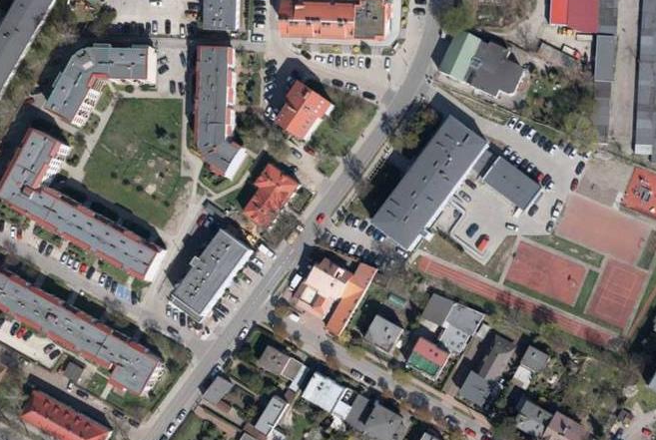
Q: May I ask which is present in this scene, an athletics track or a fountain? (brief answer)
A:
athletics track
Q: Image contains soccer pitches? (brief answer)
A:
Yes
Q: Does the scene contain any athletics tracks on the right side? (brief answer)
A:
Yes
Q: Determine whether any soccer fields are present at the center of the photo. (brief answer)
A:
No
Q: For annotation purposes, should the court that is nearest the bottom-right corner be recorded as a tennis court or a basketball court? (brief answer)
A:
tennis court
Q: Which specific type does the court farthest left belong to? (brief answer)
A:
basketball court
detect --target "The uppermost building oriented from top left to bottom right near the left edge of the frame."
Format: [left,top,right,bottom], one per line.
[0,129,162,280]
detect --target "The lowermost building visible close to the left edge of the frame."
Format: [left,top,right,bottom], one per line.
[21,390,113,440]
